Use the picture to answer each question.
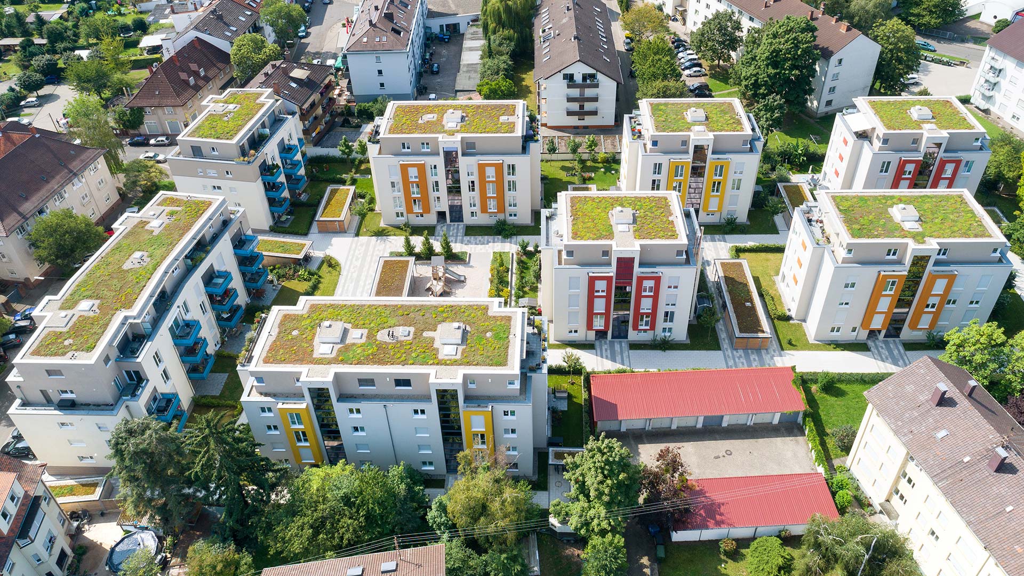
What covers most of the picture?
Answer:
buildings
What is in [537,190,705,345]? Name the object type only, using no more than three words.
building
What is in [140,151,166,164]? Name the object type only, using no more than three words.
vehicle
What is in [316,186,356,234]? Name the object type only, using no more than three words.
shed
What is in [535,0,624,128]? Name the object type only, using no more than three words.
house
